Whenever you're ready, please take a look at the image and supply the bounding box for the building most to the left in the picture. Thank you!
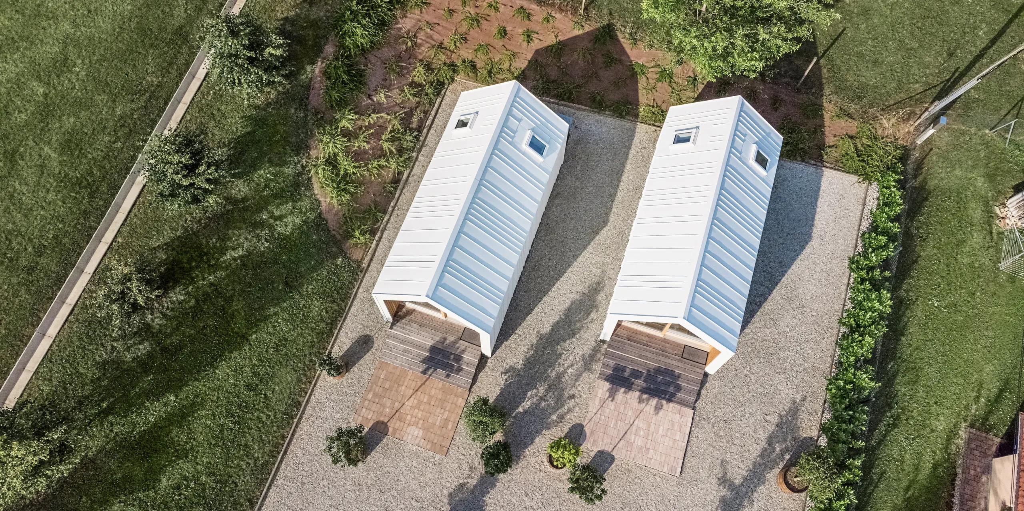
[371,79,568,359]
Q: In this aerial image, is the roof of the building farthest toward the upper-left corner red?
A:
No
